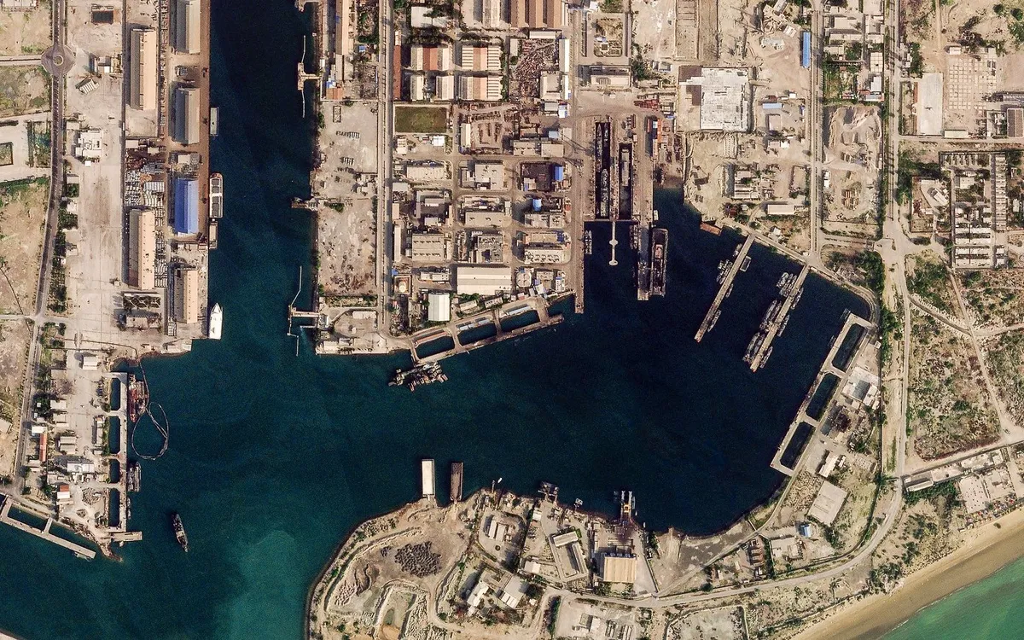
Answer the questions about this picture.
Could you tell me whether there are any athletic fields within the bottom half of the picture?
No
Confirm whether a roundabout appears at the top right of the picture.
No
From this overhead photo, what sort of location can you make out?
port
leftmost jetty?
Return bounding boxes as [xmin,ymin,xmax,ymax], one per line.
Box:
[0,496,96,558]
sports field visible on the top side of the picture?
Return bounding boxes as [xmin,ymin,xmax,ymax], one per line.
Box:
[395,107,447,133]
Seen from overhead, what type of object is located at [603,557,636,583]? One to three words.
building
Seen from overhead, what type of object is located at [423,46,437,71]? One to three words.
building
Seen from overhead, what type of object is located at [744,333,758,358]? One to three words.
ship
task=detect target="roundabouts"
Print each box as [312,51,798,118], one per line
[41,45,75,75]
